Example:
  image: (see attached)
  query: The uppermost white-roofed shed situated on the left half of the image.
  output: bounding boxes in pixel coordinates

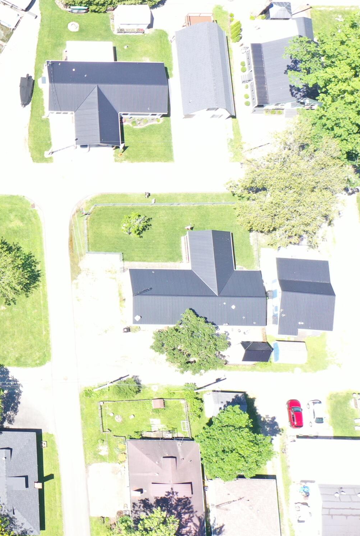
[110,4,150,31]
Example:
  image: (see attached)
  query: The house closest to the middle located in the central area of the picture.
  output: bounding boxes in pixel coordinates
[125,230,267,326]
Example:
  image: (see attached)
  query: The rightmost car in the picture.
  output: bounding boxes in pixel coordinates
[305,397,328,430]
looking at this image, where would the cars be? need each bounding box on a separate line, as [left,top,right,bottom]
[305,397,328,430]
[285,398,304,430]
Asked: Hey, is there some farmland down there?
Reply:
No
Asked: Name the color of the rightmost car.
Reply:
white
